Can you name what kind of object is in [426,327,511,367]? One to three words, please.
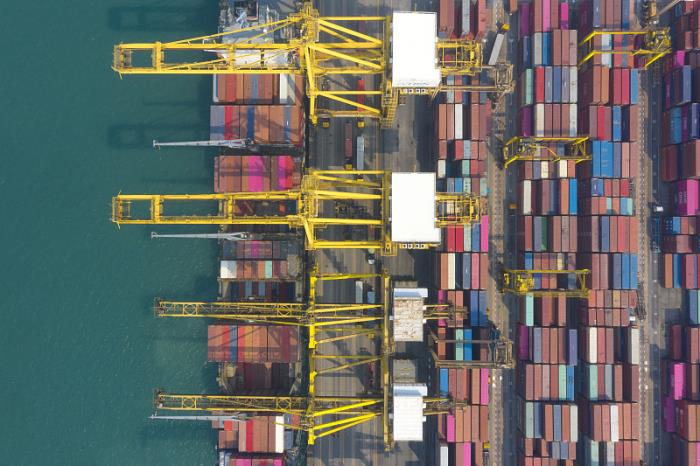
container crane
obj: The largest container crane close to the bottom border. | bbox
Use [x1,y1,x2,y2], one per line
[150,340,470,454]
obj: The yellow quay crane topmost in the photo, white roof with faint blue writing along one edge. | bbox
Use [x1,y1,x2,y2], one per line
[112,2,489,132]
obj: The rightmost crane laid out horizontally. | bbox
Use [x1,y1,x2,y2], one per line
[576,30,670,74]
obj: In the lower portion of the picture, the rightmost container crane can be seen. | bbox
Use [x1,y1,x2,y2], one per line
[500,263,594,297]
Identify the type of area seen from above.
port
